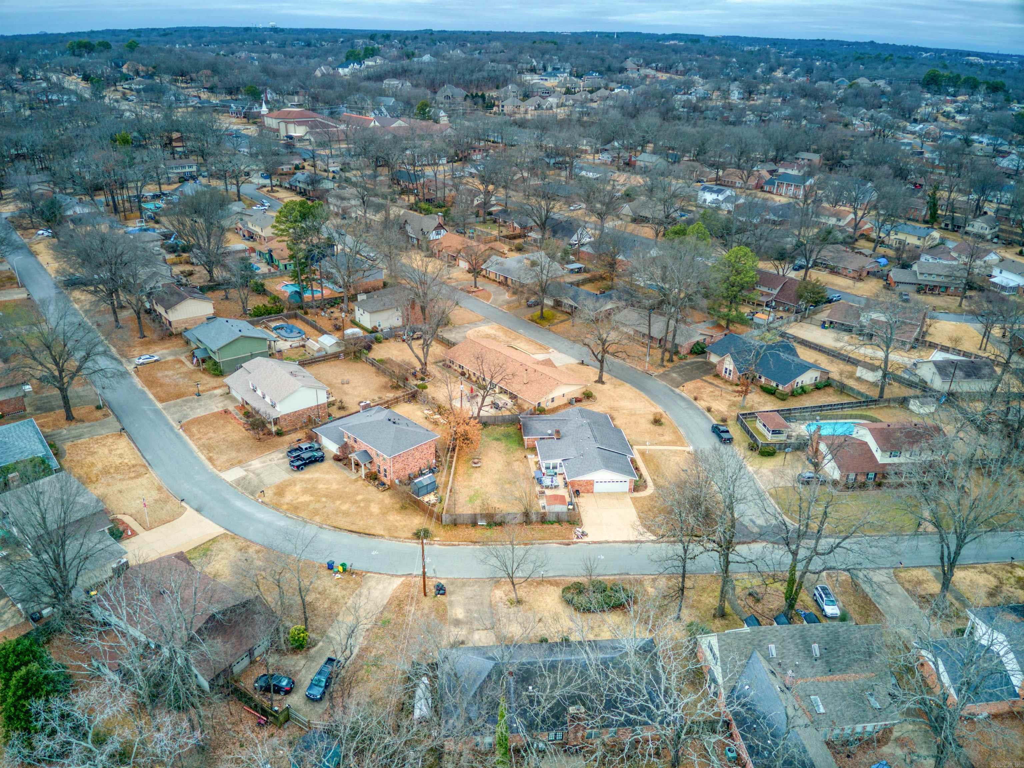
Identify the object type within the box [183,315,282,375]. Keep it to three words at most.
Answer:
building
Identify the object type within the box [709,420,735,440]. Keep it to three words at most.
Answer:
vehicle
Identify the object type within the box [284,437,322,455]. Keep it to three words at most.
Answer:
vehicle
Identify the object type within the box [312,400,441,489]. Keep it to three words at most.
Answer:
house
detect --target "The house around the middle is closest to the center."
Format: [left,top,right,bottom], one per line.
[443,336,591,415]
